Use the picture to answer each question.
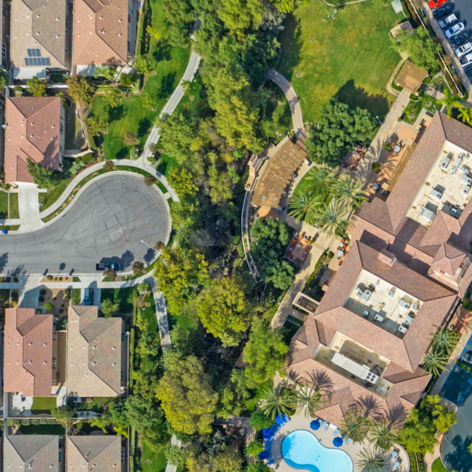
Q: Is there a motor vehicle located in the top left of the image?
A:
No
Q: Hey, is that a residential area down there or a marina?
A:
residential area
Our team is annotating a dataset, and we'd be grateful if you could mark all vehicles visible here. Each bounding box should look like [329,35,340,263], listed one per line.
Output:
[462,352,472,363]
[444,23,465,38]
[449,31,470,47]
[97,261,122,271]
[432,5,454,20]
[458,52,472,68]
[453,41,472,58]
[429,0,450,11]
[83,286,93,307]
[435,12,459,30]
